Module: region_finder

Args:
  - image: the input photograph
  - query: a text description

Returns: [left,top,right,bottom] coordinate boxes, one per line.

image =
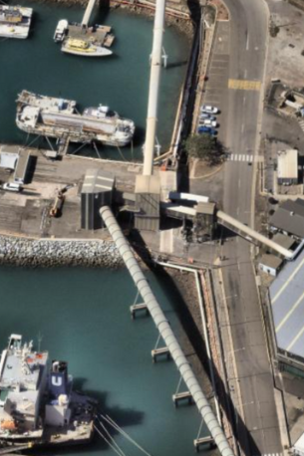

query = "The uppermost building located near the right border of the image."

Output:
[277,148,298,186]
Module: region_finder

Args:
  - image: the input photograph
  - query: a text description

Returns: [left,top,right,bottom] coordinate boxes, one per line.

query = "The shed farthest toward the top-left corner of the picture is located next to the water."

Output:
[15,147,31,186]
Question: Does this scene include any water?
Yes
